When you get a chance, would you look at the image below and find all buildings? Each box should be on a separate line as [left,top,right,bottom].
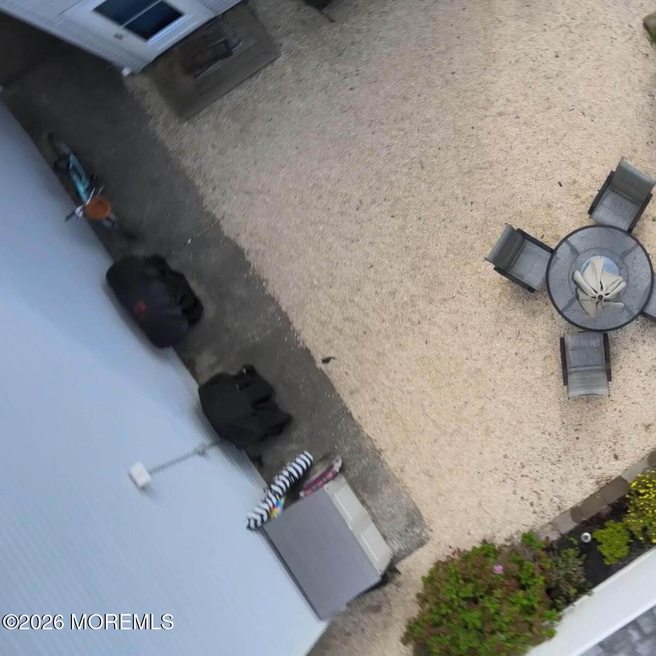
[0,0,240,76]
[0,102,326,656]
